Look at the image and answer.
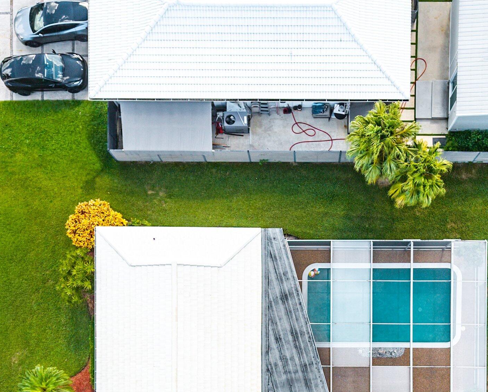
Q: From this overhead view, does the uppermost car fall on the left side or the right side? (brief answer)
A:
left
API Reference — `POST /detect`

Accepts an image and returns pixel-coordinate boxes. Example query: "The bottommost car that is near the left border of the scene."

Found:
[0,49,88,96]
